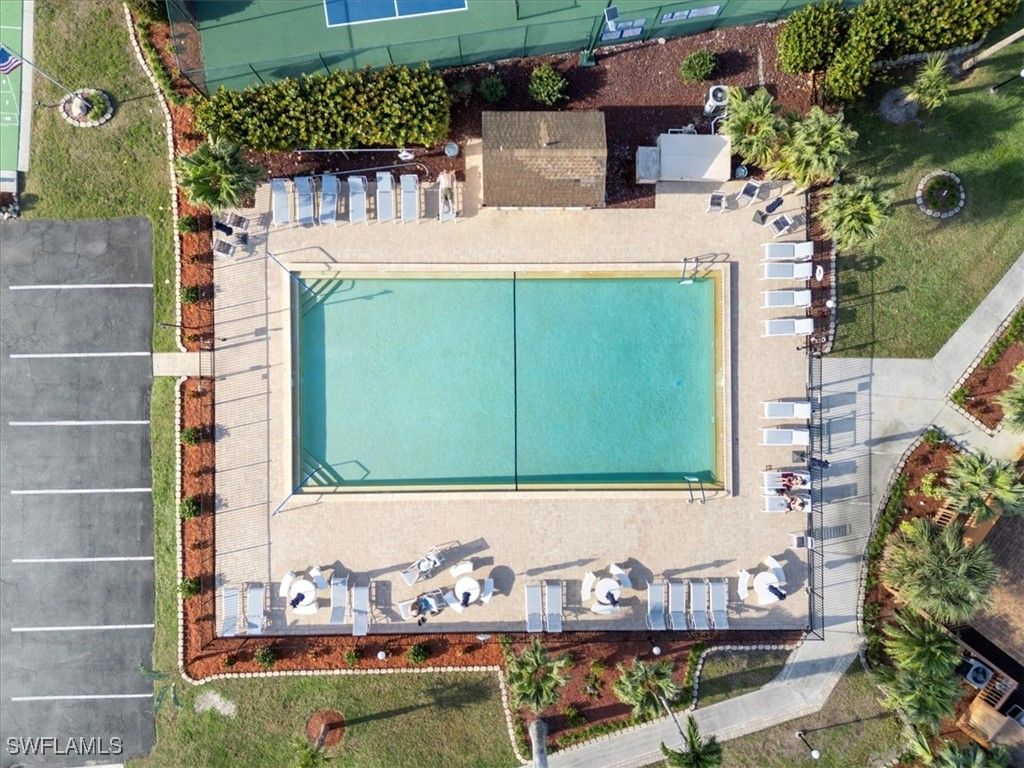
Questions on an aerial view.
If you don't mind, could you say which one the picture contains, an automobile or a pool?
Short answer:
pool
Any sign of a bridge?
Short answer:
No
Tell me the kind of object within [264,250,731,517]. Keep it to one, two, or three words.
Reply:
swimming pool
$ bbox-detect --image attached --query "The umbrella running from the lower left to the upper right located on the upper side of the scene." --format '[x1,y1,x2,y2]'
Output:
[752,199,784,226]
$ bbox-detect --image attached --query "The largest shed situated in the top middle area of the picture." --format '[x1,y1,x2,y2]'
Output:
[481,111,610,210]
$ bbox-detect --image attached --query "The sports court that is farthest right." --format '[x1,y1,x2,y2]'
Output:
[196,0,858,93]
